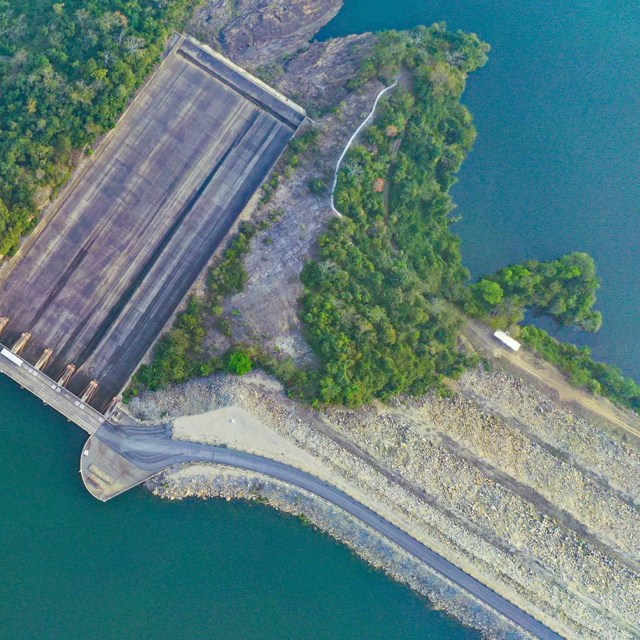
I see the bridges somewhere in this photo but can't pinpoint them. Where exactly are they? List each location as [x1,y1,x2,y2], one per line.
[0,340,108,434]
